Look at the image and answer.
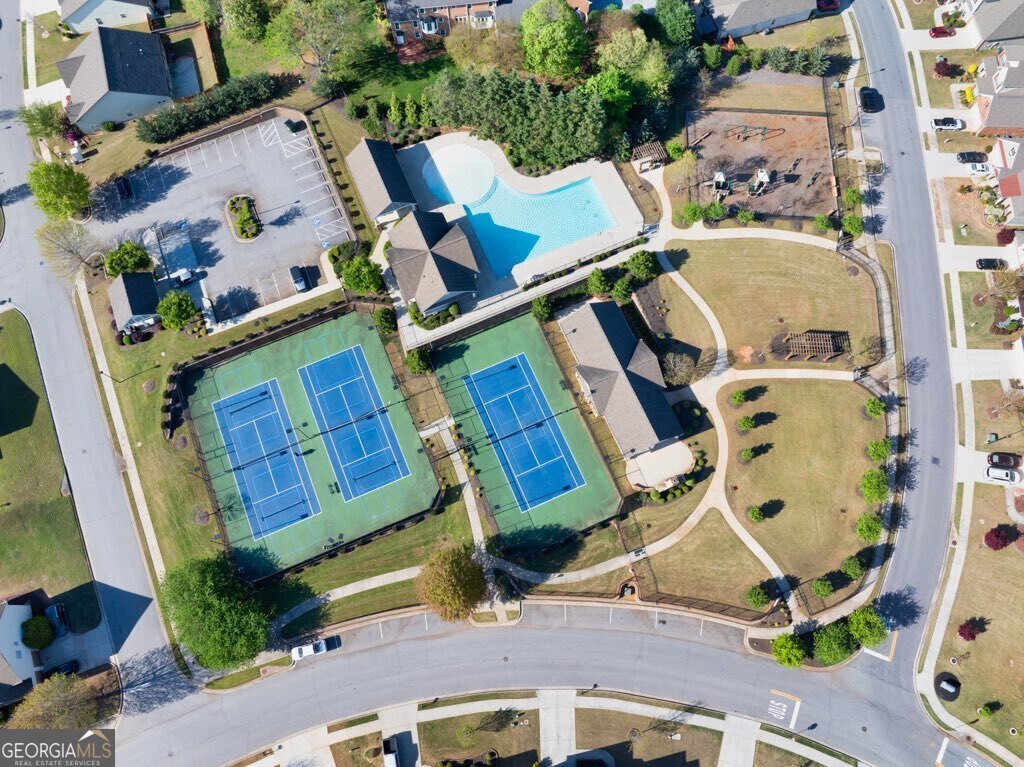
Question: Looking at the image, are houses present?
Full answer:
Yes, the image includes a house.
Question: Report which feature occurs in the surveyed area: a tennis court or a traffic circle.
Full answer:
The one in the frame is a tennis court.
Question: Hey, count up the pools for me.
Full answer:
In total, 1 pool can be seen.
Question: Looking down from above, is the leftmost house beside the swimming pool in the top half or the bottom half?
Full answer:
The leftmost house beside the swimming pool sits in the top half of the picture.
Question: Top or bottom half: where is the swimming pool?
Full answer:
The top half of the photo is where the swimming pool is.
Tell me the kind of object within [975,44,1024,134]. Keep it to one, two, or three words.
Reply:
house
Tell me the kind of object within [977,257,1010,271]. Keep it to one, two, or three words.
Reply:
car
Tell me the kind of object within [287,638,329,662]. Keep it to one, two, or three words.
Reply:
truck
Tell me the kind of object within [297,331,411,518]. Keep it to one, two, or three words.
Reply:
tennis court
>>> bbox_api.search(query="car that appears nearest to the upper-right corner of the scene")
[930,23,958,37]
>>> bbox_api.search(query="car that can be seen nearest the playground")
[861,87,876,111]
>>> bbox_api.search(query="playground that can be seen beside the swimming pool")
[694,106,841,220]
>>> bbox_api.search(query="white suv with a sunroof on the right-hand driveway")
[985,468,1022,486]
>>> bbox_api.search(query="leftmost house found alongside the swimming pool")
[347,139,418,225]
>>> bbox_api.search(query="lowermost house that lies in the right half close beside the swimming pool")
[558,299,684,460]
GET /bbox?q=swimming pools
[394,131,644,320]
